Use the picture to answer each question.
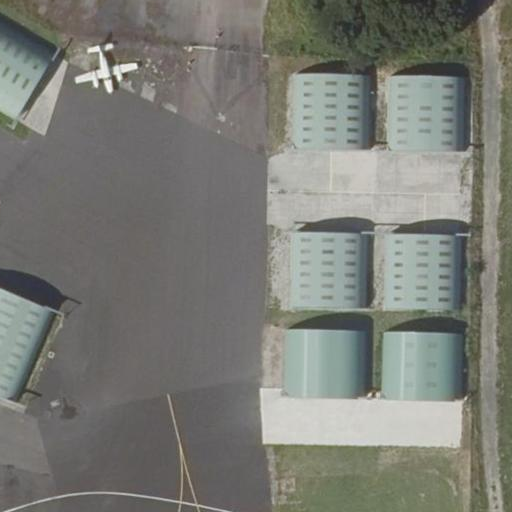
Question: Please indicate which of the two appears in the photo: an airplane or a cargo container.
airplane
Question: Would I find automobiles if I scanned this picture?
No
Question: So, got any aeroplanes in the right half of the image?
No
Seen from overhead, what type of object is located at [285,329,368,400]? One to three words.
hangar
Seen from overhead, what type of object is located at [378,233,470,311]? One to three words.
hangar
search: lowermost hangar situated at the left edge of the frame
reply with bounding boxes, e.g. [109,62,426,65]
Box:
[0,289,62,410]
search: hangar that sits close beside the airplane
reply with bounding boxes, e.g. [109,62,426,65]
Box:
[0,17,58,120]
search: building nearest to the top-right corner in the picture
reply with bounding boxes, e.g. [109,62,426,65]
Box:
[383,73,474,150]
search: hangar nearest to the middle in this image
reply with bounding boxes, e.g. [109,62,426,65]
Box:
[286,232,375,310]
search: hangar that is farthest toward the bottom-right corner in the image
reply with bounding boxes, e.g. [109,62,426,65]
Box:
[382,331,466,402]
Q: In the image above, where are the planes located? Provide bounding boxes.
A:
[74,43,138,94]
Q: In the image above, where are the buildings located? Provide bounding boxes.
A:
[382,331,466,402]
[378,233,470,311]
[0,289,62,410]
[0,17,58,120]
[287,72,376,150]
[286,232,375,310]
[285,329,368,400]
[383,73,474,150]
